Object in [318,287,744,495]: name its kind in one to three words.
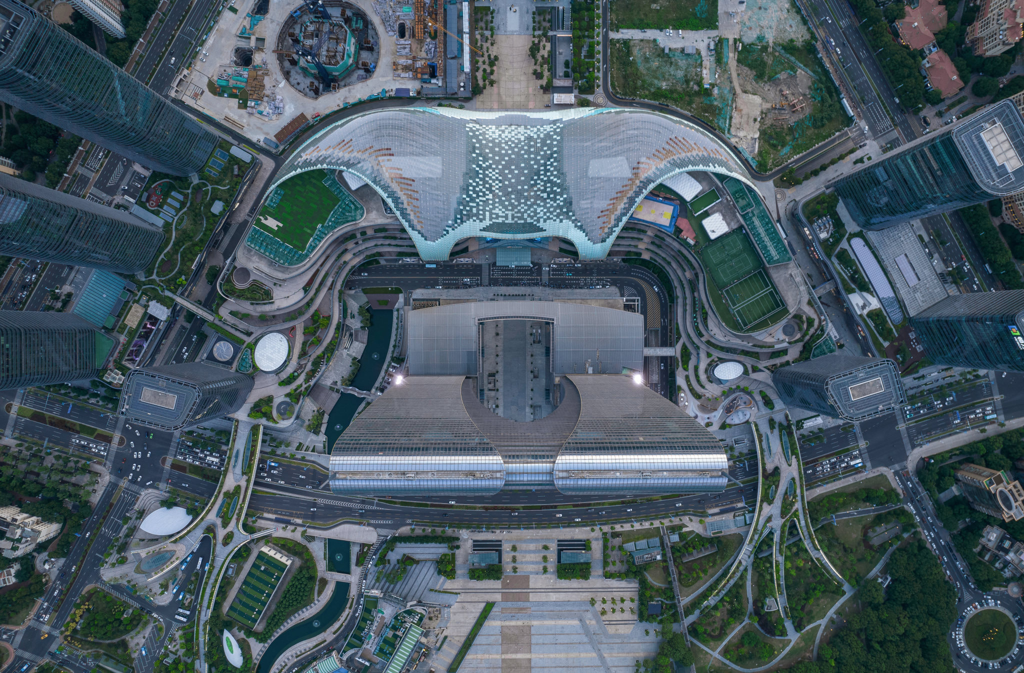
building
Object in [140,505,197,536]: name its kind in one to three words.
building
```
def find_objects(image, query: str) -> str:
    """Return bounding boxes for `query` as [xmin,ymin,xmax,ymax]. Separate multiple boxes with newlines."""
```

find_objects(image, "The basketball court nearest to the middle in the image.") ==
[630,196,679,233]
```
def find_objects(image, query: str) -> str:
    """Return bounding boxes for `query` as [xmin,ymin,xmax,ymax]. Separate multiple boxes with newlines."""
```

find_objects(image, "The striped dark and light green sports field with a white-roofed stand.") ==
[224,545,295,630]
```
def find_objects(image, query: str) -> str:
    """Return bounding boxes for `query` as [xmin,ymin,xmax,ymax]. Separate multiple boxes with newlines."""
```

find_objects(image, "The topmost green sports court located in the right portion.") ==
[687,187,721,216]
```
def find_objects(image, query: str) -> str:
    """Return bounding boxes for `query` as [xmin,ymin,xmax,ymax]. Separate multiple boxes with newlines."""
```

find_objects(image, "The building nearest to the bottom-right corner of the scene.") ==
[966,518,1024,573]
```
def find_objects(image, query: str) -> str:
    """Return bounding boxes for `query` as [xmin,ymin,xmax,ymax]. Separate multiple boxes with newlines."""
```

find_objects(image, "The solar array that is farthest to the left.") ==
[159,190,185,223]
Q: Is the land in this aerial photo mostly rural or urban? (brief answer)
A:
urban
